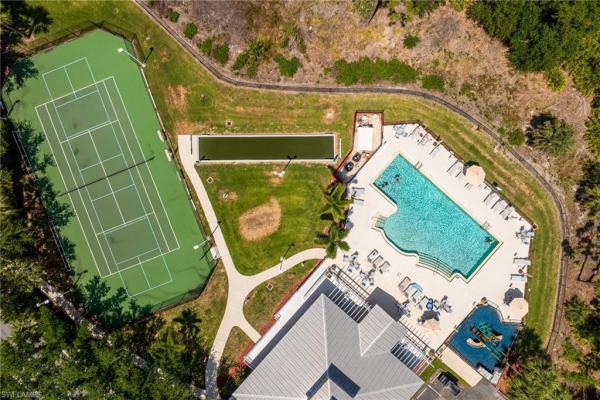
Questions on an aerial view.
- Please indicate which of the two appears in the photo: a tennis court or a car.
tennis court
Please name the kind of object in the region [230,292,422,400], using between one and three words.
building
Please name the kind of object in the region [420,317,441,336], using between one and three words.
umbrella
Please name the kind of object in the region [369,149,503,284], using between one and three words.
swimming pool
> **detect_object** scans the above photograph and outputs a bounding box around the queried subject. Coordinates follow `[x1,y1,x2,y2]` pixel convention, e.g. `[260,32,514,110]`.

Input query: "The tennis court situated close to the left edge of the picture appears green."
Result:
[3,29,213,325]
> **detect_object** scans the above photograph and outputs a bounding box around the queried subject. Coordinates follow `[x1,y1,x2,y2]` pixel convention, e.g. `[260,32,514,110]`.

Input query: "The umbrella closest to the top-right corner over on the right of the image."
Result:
[463,165,485,186]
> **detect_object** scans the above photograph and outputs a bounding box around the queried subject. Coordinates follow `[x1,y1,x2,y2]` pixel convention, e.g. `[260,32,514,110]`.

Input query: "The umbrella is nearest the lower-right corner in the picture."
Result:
[504,298,527,319]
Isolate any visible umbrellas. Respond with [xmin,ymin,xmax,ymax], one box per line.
[463,165,485,186]
[420,317,441,336]
[504,298,527,319]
